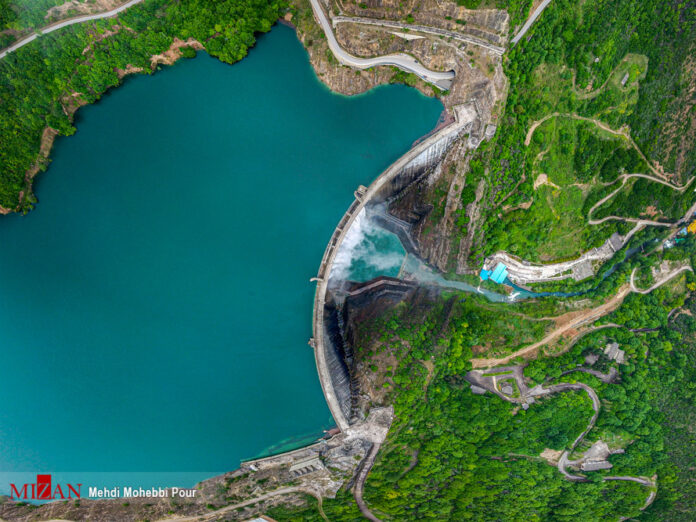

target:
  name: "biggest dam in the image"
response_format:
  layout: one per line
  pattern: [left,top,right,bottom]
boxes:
[308,117,464,430]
